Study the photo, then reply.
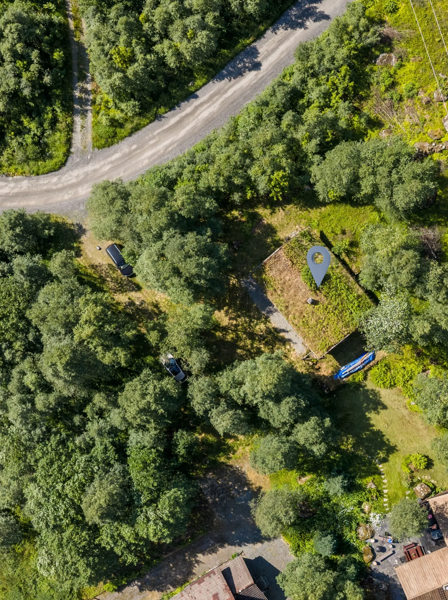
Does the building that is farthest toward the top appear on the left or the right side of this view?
right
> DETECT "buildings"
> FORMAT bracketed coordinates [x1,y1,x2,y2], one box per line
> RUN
[395,493,448,600]
[250,226,367,360]
[171,553,268,600]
